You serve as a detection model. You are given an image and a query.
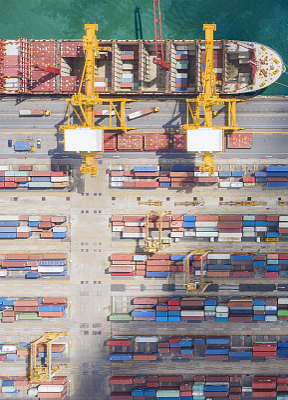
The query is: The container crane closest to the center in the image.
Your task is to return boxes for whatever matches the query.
[143,210,173,254]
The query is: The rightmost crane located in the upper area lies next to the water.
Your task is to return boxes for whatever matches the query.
[181,20,244,176]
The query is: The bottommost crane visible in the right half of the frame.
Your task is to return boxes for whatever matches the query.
[186,248,214,295]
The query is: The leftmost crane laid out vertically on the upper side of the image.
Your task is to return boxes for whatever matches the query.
[61,20,134,176]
